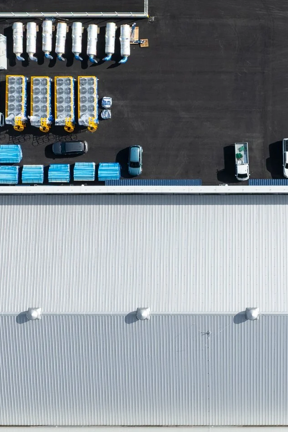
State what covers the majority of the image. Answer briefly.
buildings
